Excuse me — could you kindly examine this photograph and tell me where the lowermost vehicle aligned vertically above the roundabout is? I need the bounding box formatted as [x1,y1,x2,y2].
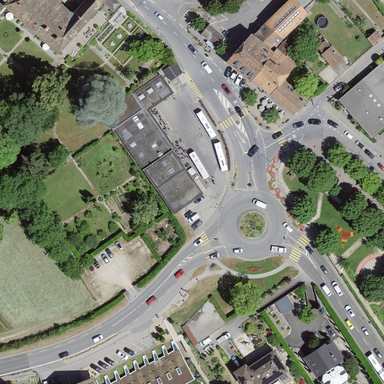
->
[214,142,226,171]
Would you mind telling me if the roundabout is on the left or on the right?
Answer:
right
